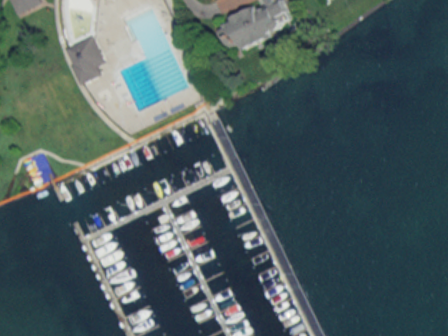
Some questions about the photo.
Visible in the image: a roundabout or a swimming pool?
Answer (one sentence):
Of the two, only a swimming pool appears.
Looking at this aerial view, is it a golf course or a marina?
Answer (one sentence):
What you see here is a marina.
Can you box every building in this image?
[218,0,292,50]
[12,0,42,18]
[67,36,105,83]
